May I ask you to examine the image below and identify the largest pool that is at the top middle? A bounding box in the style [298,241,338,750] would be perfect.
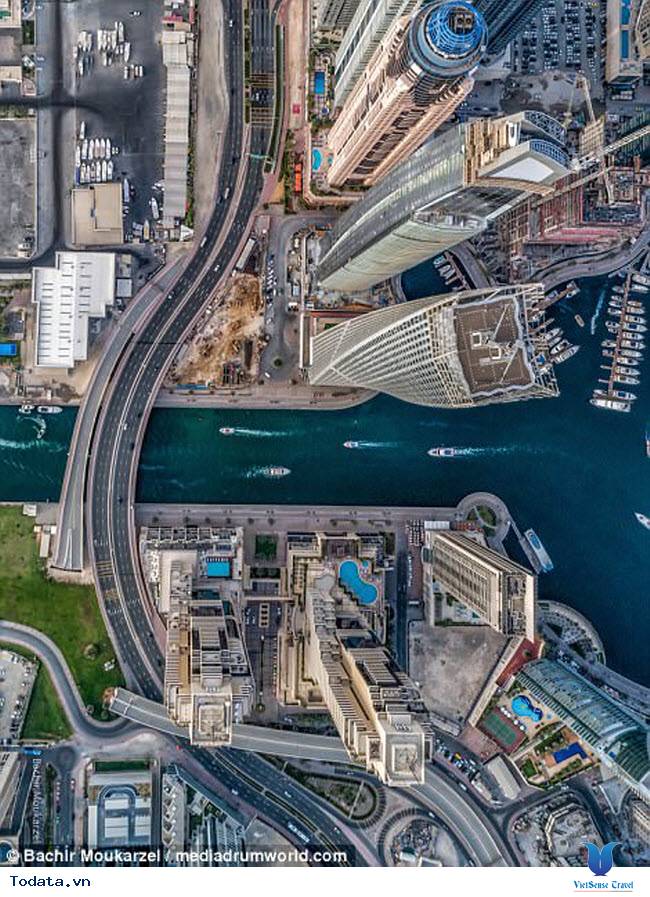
[314,72,326,94]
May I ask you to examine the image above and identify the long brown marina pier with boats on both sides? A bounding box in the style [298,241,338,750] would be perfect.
[604,262,634,397]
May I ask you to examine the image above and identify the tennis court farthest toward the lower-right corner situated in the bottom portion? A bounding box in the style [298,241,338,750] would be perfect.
[475,708,524,755]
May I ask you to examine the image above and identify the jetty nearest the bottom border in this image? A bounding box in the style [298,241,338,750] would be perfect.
[508,519,540,573]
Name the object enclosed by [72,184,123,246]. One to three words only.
building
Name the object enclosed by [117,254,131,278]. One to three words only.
shed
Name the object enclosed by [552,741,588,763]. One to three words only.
swimming pool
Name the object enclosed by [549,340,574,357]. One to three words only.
boat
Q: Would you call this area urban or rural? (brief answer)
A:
urban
